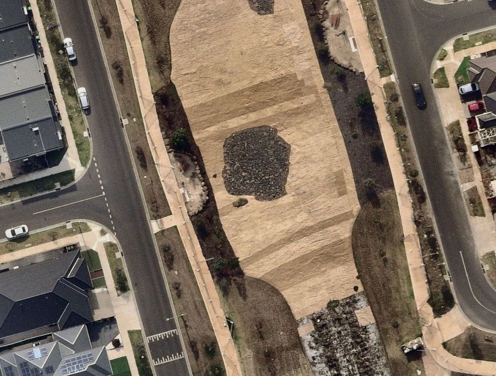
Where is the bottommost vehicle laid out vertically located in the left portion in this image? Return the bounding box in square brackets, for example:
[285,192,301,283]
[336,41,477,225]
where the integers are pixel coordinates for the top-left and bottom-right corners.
[77,87,89,110]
